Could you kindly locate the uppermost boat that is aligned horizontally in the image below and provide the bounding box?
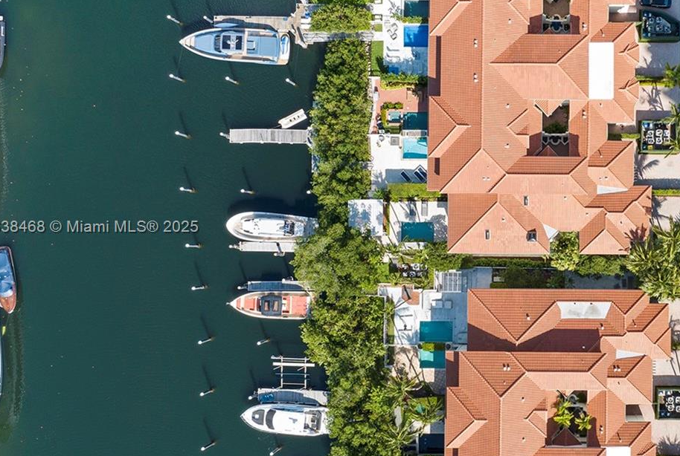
[177,23,293,62]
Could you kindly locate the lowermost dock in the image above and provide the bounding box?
[258,386,335,405]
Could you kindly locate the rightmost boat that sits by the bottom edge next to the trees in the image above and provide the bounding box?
[239,405,336,436]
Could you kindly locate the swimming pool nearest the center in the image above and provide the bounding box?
[400,220,436,243]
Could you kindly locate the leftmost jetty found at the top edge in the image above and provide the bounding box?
[214,2,307,44]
